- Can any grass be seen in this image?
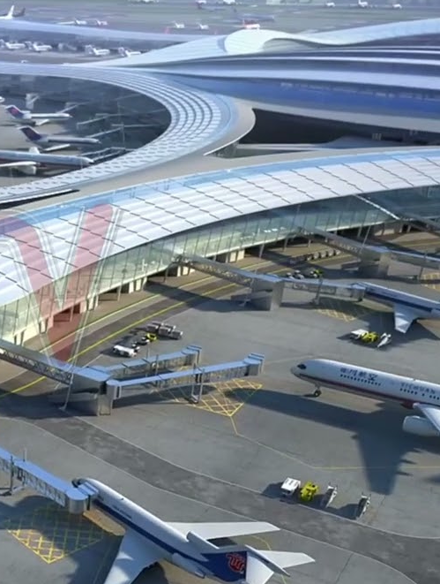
No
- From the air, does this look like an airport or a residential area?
airport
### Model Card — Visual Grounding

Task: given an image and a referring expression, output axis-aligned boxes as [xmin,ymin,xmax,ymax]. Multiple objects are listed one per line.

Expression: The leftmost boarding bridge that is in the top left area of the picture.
[28,91,45,114]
